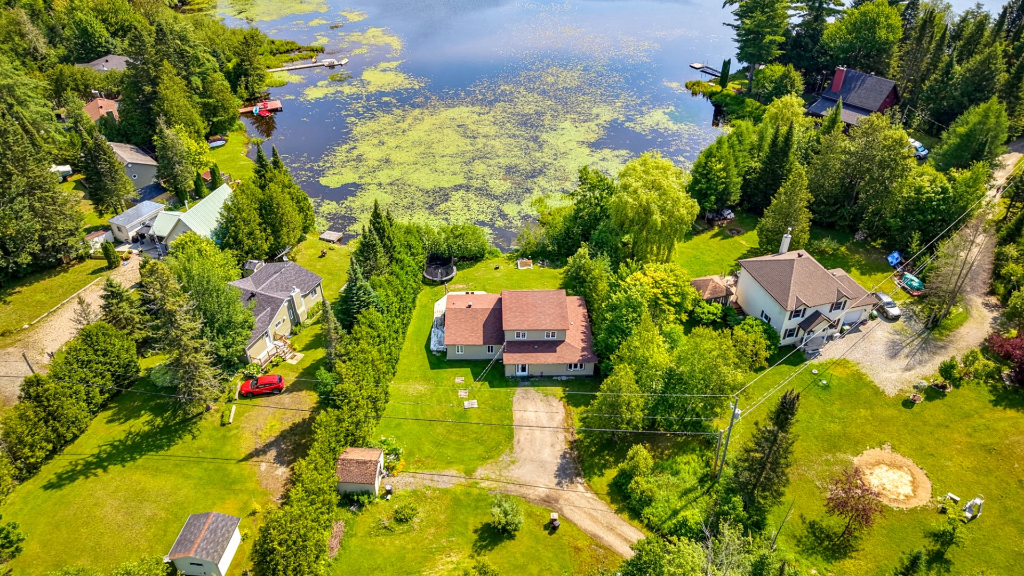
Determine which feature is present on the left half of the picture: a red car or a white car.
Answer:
red car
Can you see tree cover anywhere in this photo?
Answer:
Yes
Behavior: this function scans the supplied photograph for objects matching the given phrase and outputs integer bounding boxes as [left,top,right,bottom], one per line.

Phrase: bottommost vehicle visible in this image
[239,373,284,397]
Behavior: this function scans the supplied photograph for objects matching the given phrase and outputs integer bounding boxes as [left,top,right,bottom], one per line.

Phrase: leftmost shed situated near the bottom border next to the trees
[162,511,241,576]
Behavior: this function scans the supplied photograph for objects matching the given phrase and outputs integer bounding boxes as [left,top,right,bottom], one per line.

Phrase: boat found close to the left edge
[46,168,73,181]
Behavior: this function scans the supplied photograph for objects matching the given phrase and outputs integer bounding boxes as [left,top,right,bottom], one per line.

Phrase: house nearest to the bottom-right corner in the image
[730,228,879,360]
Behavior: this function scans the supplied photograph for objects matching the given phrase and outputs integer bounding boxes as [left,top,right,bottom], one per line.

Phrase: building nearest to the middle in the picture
[443,290,598,383]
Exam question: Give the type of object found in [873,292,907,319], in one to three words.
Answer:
car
